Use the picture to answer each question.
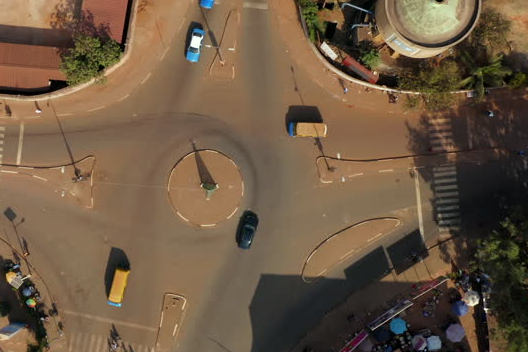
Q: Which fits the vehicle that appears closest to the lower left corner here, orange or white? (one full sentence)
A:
The vehicle that appears closest to the lower left corner looks orange in the image.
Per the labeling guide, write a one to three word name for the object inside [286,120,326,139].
vehicle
